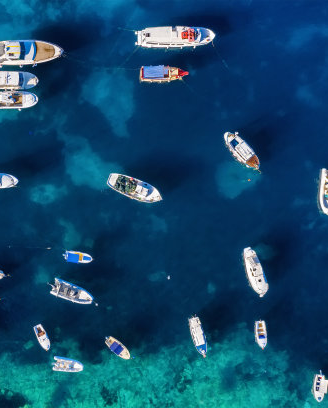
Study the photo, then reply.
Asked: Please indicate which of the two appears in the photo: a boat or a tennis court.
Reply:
boat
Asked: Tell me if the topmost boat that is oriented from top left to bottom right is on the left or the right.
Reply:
right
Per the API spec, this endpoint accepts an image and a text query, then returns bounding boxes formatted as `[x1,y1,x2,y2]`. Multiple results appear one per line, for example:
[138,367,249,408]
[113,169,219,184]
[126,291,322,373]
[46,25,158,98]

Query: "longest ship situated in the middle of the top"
[117,24,228,68]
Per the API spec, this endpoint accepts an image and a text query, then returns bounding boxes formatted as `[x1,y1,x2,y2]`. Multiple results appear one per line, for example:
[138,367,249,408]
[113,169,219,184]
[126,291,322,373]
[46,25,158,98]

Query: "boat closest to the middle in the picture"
[104,174,165,202]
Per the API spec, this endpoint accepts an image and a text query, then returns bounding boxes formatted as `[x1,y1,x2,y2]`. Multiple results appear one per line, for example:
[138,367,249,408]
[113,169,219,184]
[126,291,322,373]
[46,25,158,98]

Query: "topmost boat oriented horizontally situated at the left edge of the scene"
[0,41,71,66]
